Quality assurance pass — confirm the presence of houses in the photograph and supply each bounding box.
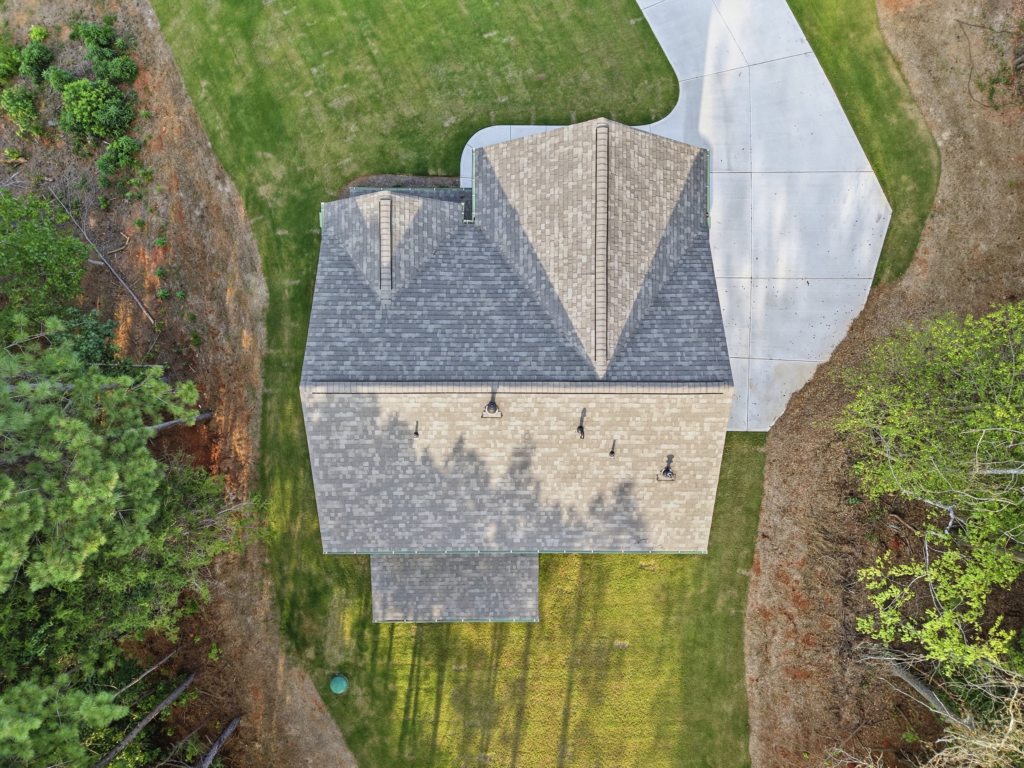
[298,119,734,625]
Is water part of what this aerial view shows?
No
